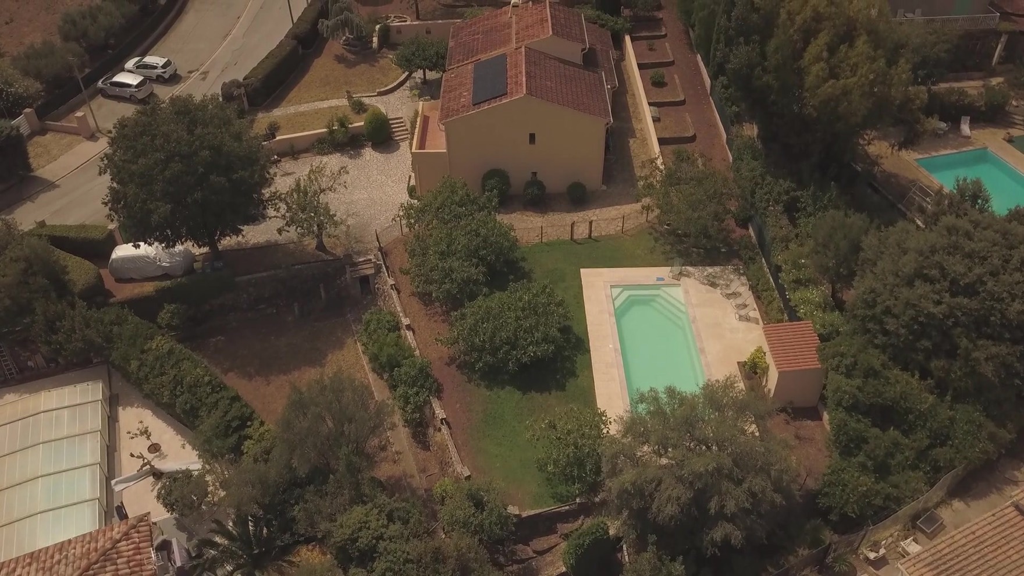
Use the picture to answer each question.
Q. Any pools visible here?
Yes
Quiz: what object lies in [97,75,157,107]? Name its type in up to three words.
car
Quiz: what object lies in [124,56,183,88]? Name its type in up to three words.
car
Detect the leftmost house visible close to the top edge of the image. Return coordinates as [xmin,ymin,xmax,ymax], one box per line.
[412,0,620,195]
